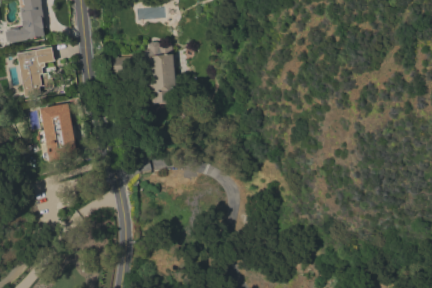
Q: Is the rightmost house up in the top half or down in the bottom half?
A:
top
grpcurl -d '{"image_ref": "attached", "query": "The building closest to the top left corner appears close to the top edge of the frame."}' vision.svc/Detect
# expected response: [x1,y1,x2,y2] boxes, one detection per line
[4,0,44,44]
